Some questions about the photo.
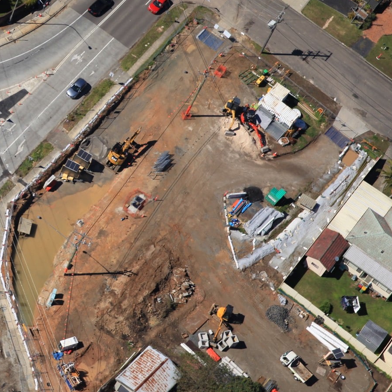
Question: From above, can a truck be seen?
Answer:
Yes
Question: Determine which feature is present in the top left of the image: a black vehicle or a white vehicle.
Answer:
black vehicle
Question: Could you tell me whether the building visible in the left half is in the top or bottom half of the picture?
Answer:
bottom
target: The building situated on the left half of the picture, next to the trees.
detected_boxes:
[111,347,181,392]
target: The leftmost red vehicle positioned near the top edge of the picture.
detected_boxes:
[145,0,172,16]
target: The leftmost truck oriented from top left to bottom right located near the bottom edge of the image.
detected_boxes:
[275,346,317,386]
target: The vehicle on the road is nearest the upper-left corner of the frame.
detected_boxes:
[88,0,113,16]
